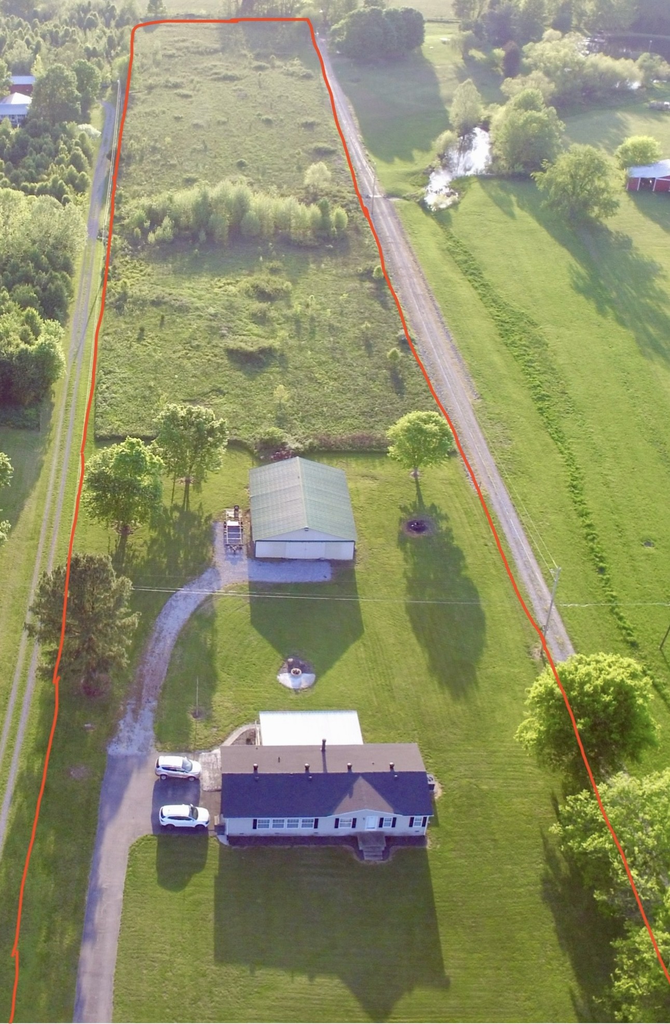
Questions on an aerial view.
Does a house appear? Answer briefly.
Yes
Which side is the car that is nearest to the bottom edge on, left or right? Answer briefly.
left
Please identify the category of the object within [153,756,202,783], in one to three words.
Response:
car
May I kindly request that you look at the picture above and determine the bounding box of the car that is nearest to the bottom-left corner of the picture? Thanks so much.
[159,805,209,832]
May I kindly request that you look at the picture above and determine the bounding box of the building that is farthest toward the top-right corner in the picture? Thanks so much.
[619,159,670,190]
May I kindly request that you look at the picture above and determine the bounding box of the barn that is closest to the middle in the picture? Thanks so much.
[253,457,361,559]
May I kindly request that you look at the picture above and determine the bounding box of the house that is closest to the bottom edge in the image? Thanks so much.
[222,743,433,835]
